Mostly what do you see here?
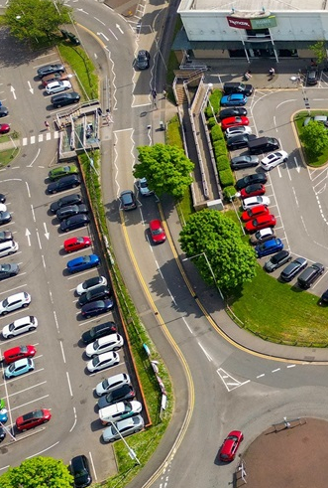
paved ground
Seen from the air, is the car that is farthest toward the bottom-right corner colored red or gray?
red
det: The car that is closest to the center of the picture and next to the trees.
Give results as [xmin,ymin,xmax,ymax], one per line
[149,219,165,243]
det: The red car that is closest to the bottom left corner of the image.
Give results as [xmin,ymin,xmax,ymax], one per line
[15,409,52,432]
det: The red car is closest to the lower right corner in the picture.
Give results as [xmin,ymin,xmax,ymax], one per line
[218,429,244,461]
